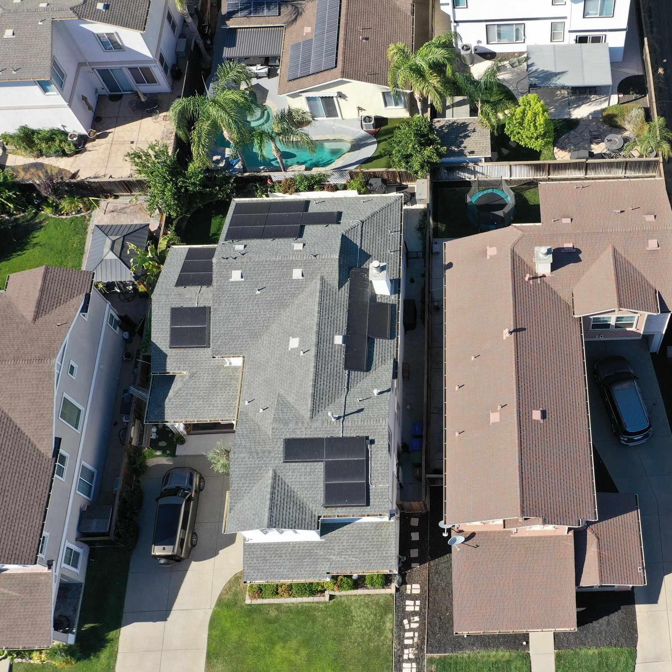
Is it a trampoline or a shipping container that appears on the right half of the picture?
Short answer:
trampoline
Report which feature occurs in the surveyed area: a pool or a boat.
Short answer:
pool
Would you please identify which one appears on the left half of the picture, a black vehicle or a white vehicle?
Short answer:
black vehicle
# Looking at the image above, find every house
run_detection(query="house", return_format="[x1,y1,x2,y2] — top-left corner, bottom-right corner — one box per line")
[142,194,405,586]
[442,177,672,638]
[221,0,415,120]
[0,0,191,134]
[0,265,121,653]
[440,0,639,62]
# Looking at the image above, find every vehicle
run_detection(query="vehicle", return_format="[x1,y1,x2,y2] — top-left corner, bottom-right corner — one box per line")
[144,467,202,565]
[596,358,652,446]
